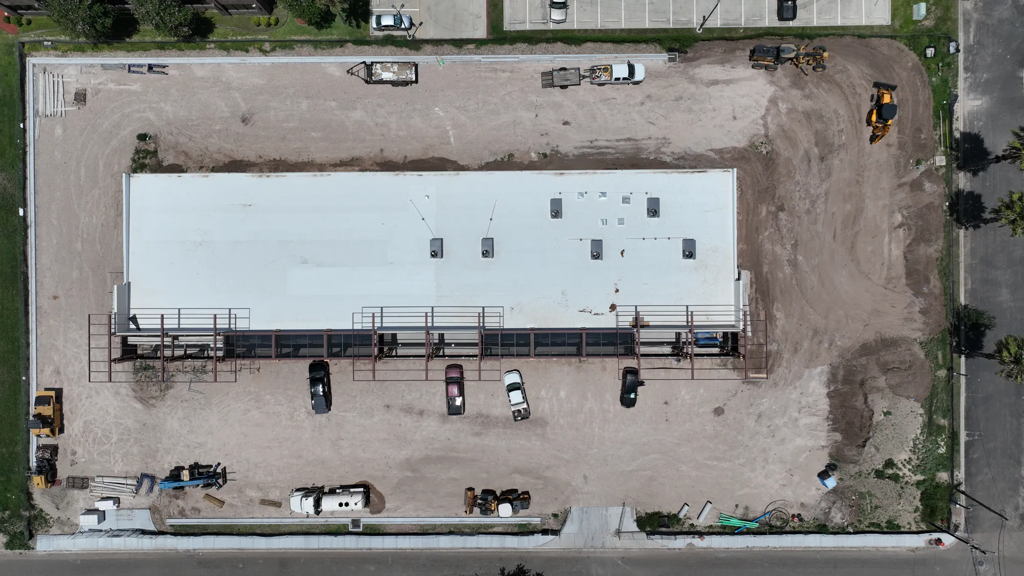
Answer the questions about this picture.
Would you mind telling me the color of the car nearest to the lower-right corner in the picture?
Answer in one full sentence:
The color of the car nearest to the lower-right corner is black.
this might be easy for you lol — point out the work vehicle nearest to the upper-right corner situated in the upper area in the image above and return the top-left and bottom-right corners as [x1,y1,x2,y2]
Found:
[864,79,900,140]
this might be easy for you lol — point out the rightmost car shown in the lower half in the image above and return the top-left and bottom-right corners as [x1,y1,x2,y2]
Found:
[619,366,645,408]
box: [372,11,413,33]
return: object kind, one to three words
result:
car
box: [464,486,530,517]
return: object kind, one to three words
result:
work vehicle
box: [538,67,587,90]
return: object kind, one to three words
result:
trailer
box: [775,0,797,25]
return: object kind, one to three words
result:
truck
